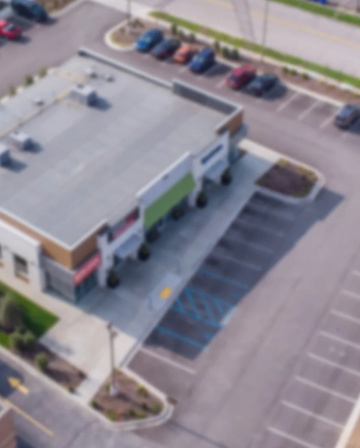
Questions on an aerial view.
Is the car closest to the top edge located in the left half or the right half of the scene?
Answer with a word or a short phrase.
left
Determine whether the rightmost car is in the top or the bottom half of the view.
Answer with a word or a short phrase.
top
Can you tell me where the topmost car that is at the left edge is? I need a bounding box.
[13,0,48,22]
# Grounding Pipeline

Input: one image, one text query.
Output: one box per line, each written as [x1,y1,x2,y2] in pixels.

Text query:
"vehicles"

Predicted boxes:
[134,27,167,55]
[331,104,360,133]
[224,66,260,91]
[149,41,184,63]
[170,43,199,68]
[0,22,22,43]
[185,46,219,75]
[13,0,48,22]
[246,74,281,99]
